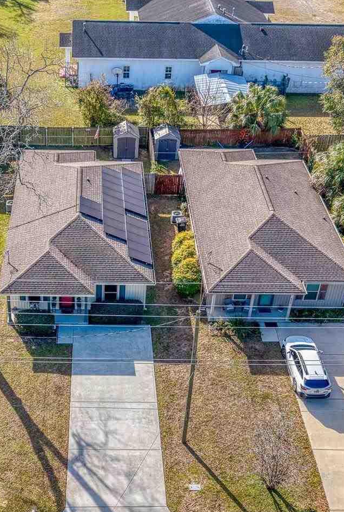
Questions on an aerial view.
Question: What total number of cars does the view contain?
one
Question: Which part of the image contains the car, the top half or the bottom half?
bottom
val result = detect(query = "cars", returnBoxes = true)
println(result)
[286,339,335,399]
